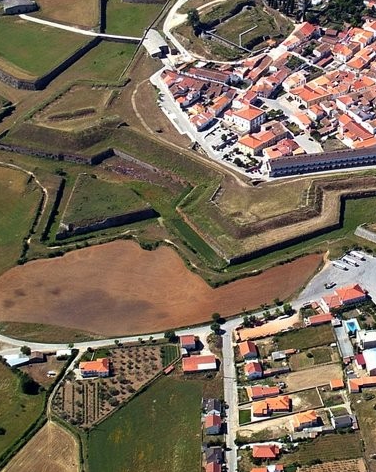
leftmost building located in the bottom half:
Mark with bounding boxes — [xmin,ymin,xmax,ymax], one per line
[3,346,31,372]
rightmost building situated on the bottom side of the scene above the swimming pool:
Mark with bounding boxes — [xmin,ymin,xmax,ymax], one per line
[323,285,366,314]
